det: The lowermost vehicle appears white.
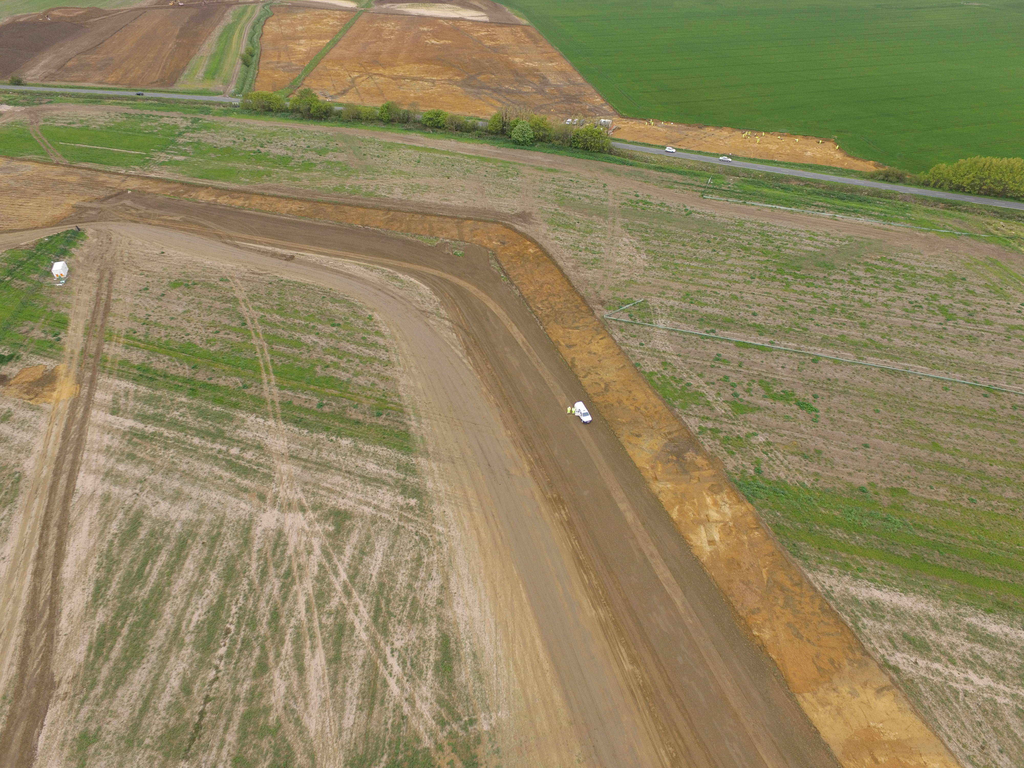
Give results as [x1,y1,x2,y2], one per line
[575,402,592,423]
